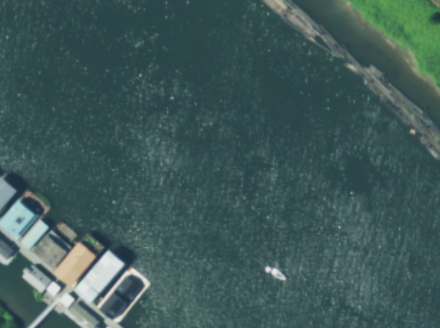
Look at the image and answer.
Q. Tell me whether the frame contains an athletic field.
No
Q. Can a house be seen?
Yes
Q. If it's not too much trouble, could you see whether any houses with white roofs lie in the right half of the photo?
No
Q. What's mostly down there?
water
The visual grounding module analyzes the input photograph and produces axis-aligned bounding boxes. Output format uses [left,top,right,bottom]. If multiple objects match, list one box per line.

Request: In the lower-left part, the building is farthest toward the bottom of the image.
[64,300,99,328]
